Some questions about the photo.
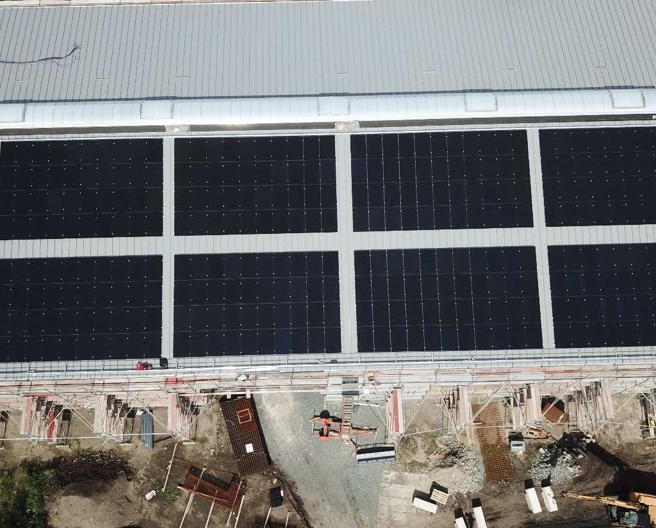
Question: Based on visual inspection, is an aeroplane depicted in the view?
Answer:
No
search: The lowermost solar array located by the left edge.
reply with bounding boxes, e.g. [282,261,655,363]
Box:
[0,255,163,362]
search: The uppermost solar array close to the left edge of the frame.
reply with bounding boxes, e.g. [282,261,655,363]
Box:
[0,138,164,239]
